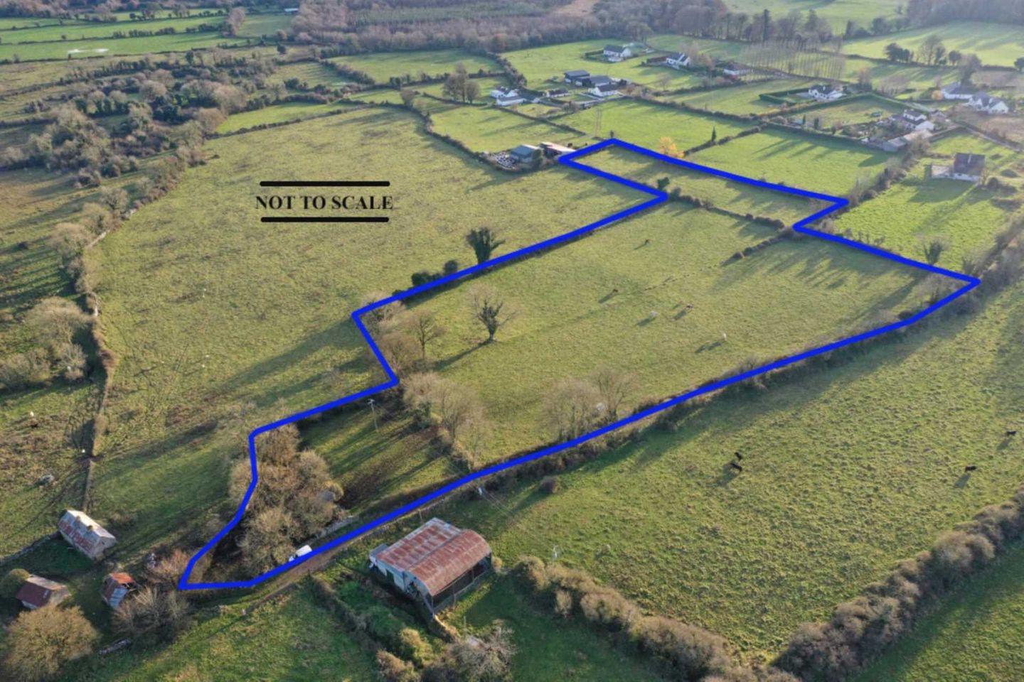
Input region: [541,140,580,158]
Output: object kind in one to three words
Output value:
shed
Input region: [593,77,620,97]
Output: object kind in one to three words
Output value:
house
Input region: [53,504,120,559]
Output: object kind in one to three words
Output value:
house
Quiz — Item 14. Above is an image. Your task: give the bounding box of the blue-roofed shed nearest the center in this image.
[510,145,537,164]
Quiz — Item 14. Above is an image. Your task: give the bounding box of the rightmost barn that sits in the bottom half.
[377,515,493,613]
